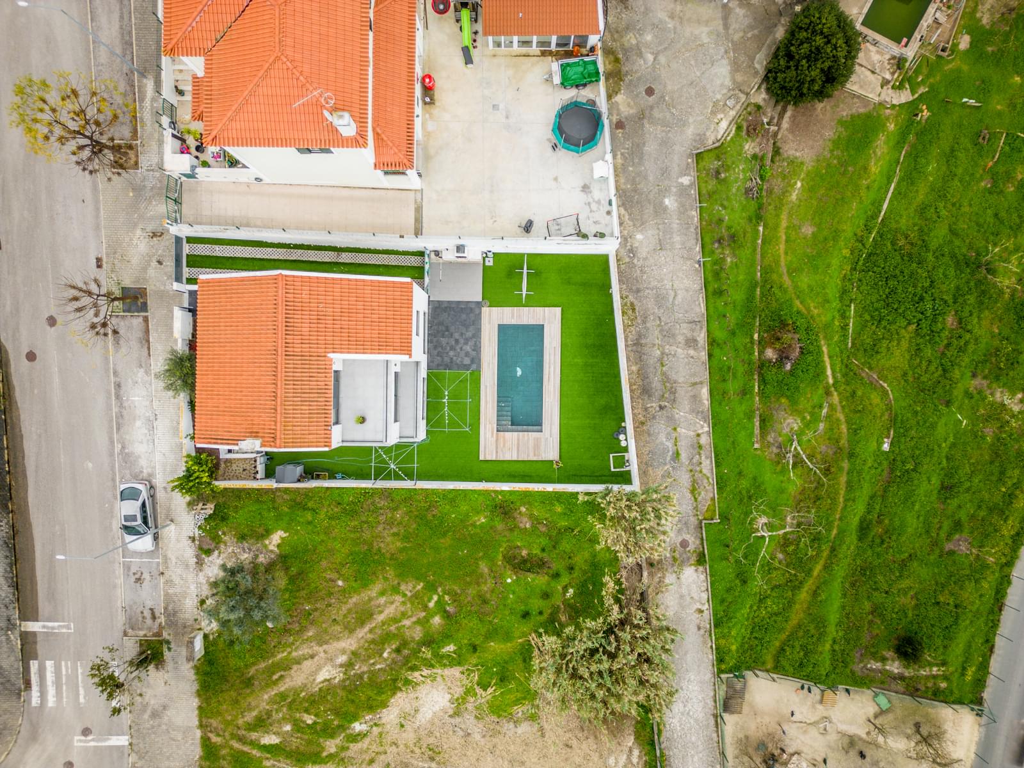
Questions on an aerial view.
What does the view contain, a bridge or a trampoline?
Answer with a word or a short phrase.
trampoline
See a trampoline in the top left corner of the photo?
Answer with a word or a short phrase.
No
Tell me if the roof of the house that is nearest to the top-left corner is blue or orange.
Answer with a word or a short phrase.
orange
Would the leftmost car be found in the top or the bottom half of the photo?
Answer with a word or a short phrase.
bottom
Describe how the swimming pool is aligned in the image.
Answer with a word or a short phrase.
up and down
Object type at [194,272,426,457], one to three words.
house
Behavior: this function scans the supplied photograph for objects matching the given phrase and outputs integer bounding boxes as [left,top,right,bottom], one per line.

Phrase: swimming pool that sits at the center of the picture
[481,307,561,460]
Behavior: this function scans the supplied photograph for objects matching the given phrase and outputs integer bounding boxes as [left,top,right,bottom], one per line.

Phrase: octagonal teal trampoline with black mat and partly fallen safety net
[554,90,605,155]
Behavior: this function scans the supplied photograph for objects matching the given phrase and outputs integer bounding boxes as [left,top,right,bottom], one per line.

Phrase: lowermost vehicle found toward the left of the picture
[116,483,153,552]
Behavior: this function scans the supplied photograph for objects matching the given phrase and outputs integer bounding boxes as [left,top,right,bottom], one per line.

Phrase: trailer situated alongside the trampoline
[543,57,600,90]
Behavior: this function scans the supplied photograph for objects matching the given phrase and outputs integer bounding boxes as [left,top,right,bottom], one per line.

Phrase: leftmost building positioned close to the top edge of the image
[160,0,422,188]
